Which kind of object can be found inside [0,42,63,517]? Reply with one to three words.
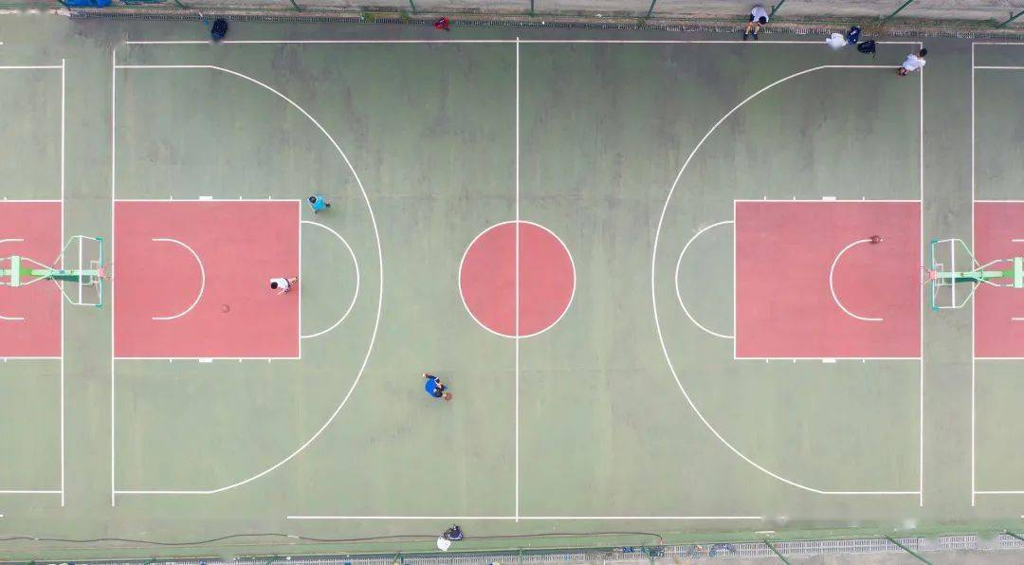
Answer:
basketball court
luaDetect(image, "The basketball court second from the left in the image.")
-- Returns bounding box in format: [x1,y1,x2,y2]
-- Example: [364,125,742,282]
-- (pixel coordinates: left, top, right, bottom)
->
[113,37,923,522]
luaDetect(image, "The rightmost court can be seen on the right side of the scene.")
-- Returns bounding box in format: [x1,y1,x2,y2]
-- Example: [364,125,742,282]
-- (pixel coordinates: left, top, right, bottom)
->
[972,43,1024,517]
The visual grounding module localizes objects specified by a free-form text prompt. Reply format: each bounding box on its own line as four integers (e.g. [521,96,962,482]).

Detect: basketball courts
[0,42,63,517]
[113,37,923,522]
[972,43,1024,517]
